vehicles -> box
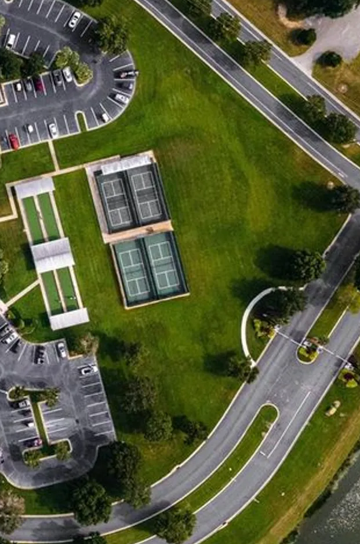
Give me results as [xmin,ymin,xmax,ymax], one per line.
[49,123,58,139]
[34,78,43,94]
[0,135,9,150]
[16,399,32,409]
[19,408,35,417]
[26,421,35,428]
[16,84,22,93]
[24,79,33,95]
[9,133,18,149]
[27,124,34,133]
[6,32,17,50]
[114,81,130,89]
[35,347,44,363]
[10,338,24,353]
[69,12,79,28]
[57,343,66,359]
[117,70,136,78]
[5,331,19,345]
[53,70,62,86]
[114,93,129,104]
[62,68,72,84]
[0,326,11,338]
[79,364,98,374]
